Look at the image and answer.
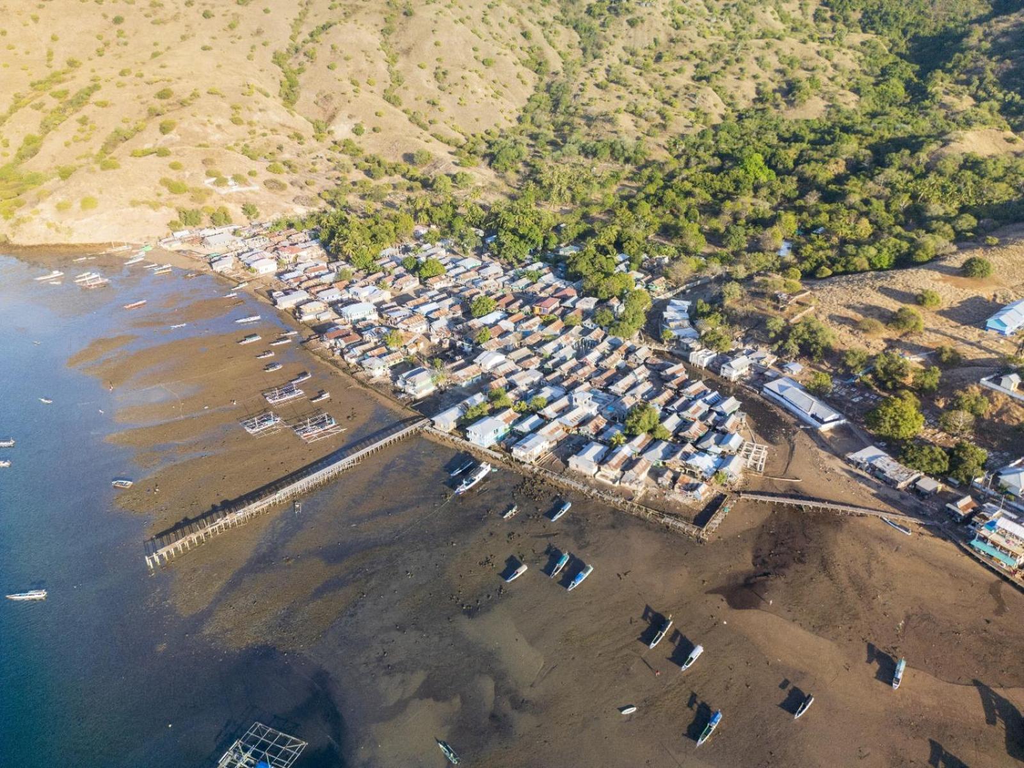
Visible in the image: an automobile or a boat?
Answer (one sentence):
The one in the frame is a boat.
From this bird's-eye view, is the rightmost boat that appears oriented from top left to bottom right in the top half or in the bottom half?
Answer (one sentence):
You can find the rightmost boat that appears oriented from top left to bottom right in the bottom half.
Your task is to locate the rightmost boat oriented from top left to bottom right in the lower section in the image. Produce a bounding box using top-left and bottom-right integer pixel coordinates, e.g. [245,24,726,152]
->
[883,512,912,534]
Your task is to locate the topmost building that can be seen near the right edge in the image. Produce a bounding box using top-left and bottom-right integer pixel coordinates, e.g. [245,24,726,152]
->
[978,290,1024,340]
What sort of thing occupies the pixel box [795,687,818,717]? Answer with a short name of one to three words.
boat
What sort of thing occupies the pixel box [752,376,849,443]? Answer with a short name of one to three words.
building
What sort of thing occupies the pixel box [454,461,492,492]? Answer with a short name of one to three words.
boat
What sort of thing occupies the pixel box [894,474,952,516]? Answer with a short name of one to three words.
house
